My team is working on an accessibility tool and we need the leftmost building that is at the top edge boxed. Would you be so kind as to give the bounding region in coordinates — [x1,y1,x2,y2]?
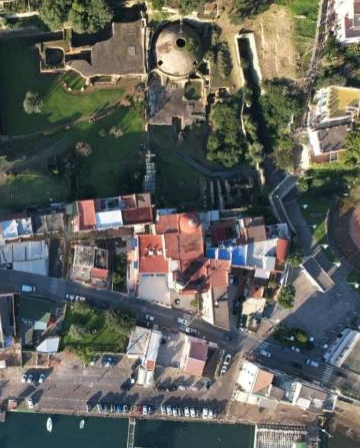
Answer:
[68,19,144,79]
